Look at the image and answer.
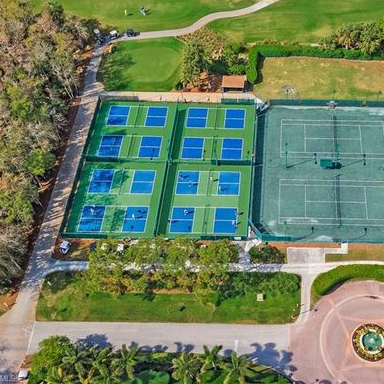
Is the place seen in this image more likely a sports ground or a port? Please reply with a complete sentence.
The area seen from above is a sports ground.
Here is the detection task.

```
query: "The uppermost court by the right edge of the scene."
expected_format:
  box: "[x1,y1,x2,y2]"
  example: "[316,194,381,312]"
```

[255,105,384,169]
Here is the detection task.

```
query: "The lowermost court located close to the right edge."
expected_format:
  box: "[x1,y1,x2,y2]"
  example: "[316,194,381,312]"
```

[252,166,384,246]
